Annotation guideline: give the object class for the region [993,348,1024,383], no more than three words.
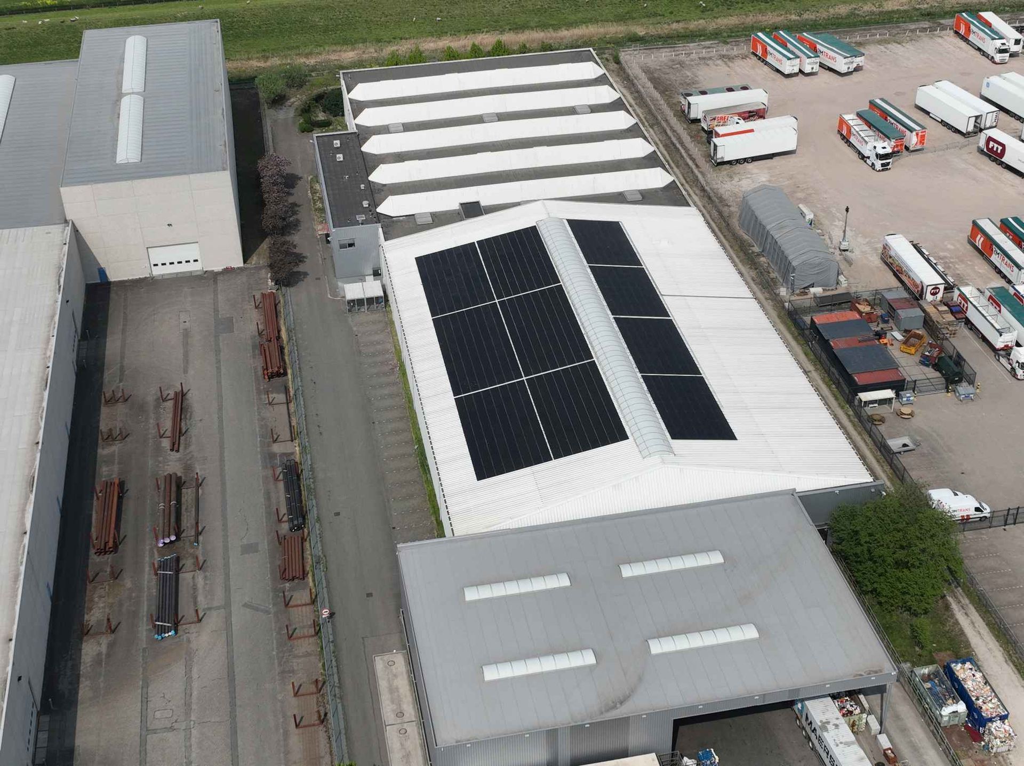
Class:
truck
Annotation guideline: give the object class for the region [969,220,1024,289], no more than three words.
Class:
trailer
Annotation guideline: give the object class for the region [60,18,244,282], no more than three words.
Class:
warehouse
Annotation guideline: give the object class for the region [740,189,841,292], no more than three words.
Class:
tent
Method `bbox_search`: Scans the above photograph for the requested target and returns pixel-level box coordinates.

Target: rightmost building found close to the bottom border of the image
[396,487,898,766]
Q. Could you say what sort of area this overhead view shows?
industrial area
